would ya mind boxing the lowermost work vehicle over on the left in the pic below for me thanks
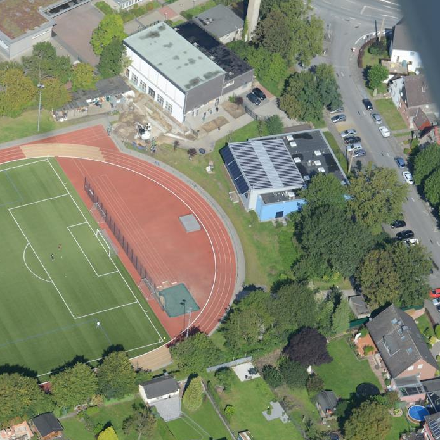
[133,123,152,137]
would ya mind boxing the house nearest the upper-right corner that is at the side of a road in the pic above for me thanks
[379,7,418,81]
